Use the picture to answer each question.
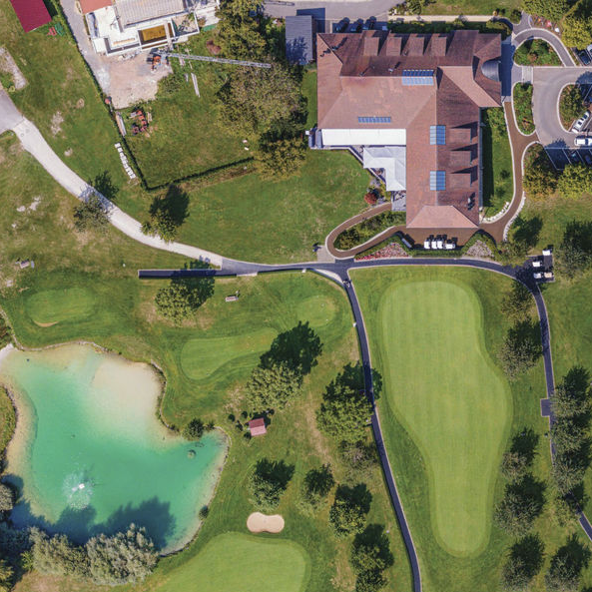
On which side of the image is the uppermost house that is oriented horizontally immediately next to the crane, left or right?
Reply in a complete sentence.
The uppermost house that is oriented horizontally immediately next to the crane sits on the left side.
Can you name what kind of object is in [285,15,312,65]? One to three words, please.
shed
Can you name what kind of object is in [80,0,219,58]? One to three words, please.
house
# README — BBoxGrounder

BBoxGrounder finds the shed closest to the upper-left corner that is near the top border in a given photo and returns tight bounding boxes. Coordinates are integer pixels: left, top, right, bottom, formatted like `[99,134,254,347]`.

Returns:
[10,0,53,33]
